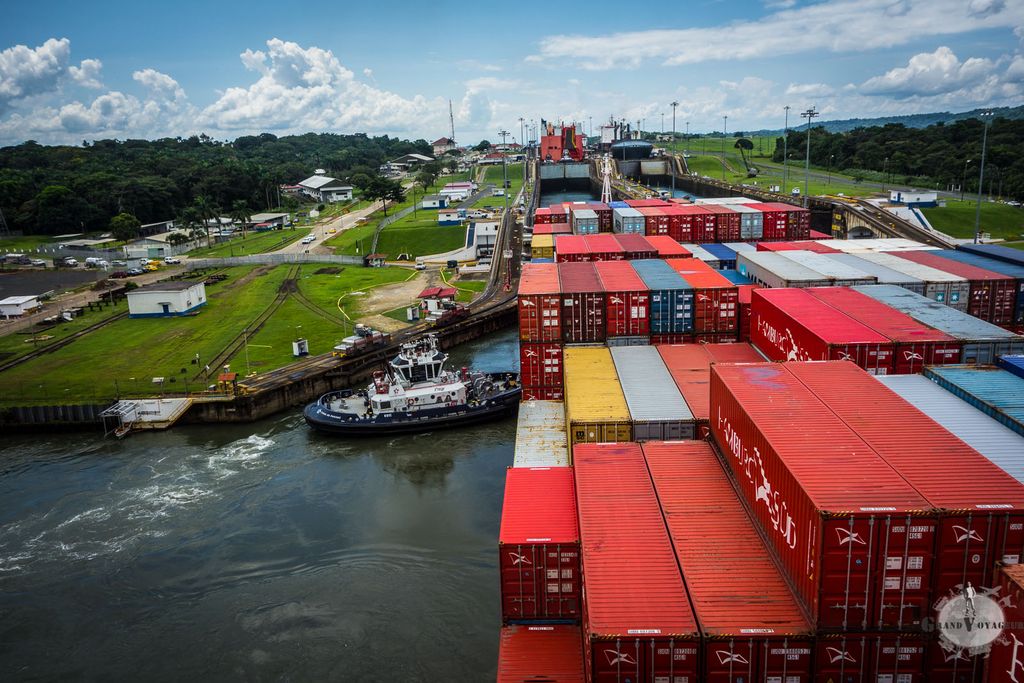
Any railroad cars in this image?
Yes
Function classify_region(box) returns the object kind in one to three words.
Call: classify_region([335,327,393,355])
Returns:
rail car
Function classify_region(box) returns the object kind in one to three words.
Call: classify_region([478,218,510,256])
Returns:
building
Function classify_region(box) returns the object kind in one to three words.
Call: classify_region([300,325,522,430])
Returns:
boat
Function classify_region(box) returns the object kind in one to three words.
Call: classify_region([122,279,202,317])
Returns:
building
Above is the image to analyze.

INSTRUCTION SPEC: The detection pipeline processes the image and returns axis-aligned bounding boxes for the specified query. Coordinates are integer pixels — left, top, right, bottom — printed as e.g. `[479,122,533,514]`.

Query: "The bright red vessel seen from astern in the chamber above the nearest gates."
[540,117,589,161]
